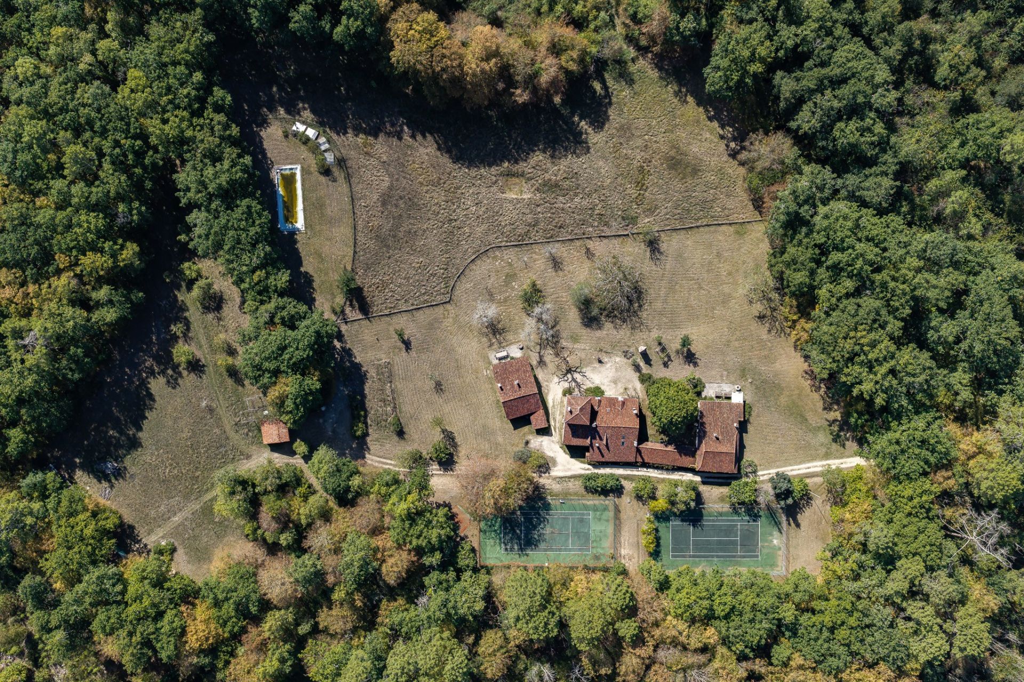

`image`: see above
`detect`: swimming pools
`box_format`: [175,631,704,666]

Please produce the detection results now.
[274,164,304,232]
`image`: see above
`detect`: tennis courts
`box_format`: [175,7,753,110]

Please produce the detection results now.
[648,505,783,572]
[480,499,612,565]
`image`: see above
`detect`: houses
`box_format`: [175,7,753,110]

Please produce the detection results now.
[563,395,639,462]
[493,357,548,429]
[694,401,743,473]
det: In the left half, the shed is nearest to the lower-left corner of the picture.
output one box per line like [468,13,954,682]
[261,421,292,444]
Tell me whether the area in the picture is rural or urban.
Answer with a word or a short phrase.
rural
